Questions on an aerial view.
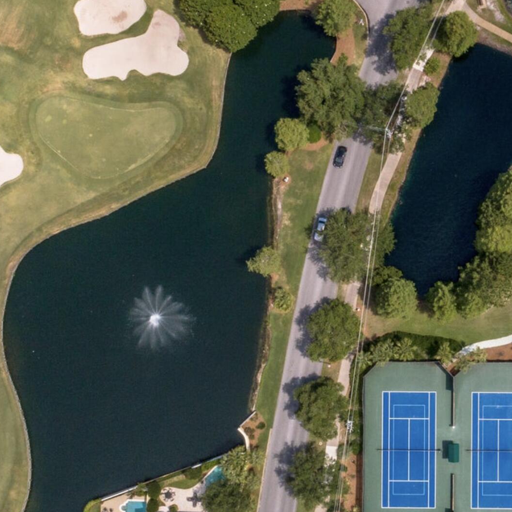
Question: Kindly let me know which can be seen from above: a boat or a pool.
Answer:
pool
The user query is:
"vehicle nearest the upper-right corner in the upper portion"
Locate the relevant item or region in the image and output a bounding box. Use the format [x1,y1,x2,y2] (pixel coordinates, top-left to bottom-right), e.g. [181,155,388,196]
[333,145,346,167]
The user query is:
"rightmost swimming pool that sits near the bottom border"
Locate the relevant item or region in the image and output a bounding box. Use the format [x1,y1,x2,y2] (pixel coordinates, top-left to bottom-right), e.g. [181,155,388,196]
[202,464,228,489]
